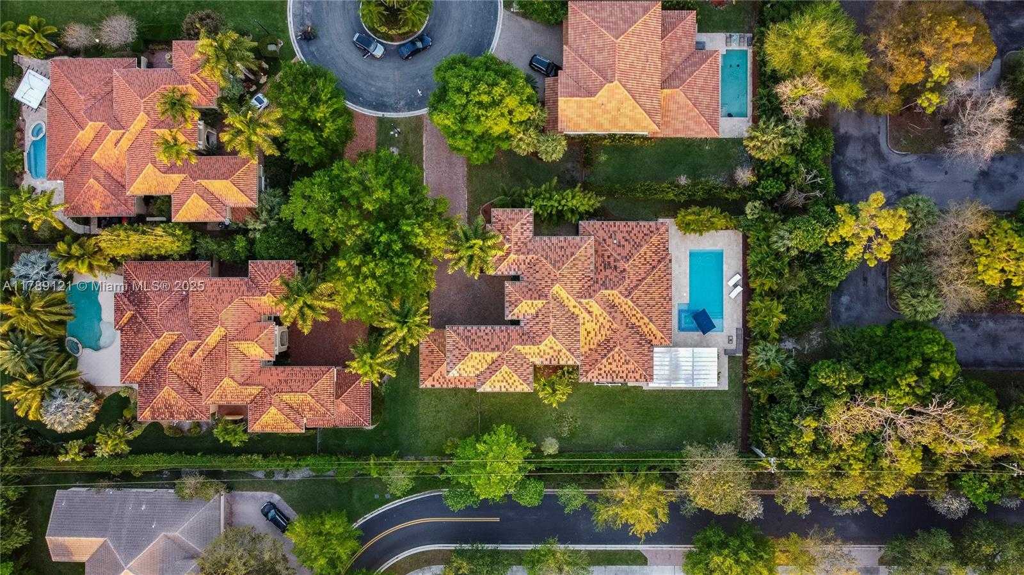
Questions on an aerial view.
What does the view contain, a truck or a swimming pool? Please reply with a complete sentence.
This aerial view contains a swimming pool.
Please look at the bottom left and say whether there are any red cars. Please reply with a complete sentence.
No, at the bottom left there is no red car.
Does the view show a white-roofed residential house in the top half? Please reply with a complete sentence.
No, there is no white-roofed residential house in the top half.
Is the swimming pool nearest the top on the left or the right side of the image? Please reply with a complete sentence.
It is on the right.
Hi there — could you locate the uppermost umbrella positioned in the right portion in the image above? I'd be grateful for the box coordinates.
[692,308,716,335]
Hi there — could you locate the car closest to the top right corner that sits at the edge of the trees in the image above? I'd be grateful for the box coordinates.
[528,54,562,77]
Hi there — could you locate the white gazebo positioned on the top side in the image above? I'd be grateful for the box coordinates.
[14,67,49,111]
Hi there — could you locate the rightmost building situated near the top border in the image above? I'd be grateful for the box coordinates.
[545,0,720,138]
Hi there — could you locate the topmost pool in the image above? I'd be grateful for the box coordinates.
[720,47,750,118]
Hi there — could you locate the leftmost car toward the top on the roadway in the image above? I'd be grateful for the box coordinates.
[352,34,386,62]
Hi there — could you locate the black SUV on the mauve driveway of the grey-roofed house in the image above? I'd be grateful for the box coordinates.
[262,500,293,534]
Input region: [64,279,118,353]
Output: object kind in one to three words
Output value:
swimming pool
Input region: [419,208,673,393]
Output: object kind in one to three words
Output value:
house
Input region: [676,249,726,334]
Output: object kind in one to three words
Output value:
swimming pool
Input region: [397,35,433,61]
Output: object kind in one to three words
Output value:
car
